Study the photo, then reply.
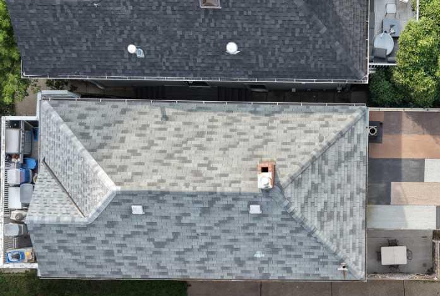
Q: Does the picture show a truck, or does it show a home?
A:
home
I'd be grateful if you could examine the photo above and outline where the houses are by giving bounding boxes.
[2,0,375,96]
[22,92,370,281]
